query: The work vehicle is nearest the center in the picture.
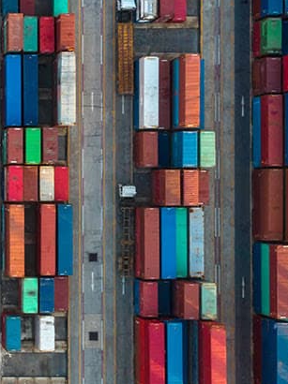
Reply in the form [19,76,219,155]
[117,181,135,214]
